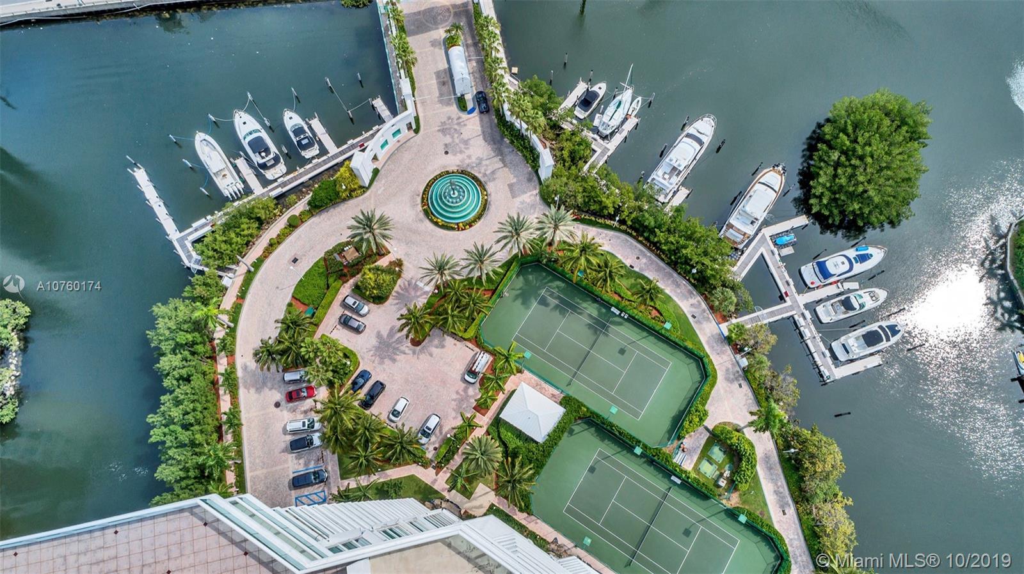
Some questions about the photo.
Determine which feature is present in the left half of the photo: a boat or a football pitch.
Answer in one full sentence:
It is a boat that can be seen in the left half of the photo.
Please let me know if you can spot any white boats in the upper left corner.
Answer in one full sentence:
Yes, there is a white boat in the upper left corner.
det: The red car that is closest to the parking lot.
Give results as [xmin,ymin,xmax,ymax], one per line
[285,386,317,403]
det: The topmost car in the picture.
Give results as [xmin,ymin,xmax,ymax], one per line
[476,88,489,111]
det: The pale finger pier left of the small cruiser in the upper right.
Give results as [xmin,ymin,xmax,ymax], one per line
[559,74,591,113]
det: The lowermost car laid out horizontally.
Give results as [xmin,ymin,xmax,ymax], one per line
[292,468,327,489]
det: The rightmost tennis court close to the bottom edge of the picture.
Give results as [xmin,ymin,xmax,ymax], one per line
[532,418,781,574]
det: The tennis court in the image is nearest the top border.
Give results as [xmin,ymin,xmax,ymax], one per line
[482,264,705,446]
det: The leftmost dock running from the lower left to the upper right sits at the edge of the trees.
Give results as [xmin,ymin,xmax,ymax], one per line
[175,137,372,273]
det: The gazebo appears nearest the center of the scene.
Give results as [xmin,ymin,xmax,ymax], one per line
[500,382,565,441]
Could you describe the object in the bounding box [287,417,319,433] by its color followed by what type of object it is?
white car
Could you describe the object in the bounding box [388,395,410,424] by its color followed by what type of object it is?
white car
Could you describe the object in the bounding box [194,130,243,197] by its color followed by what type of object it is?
white boat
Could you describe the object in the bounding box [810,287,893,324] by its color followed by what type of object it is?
white boat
